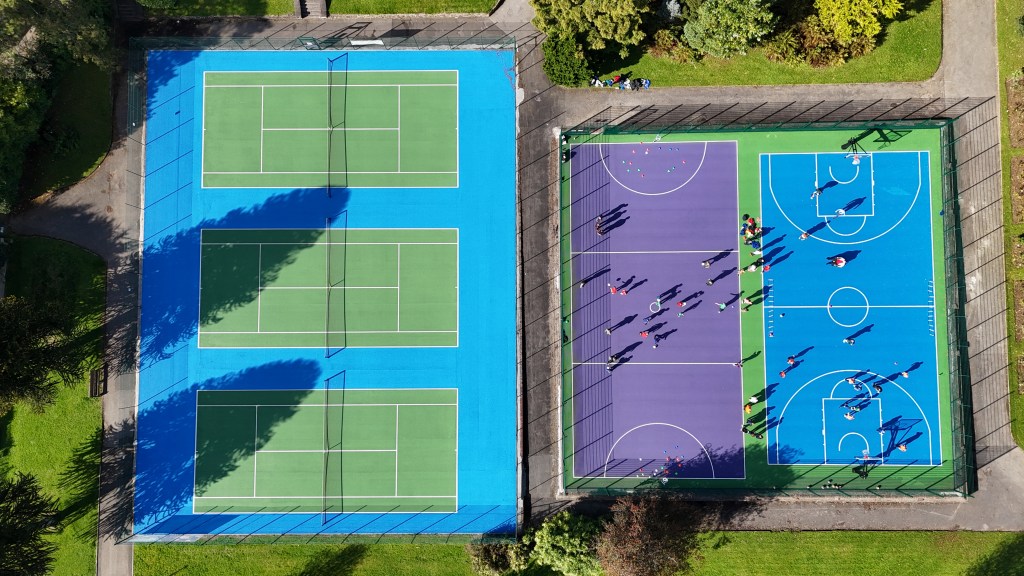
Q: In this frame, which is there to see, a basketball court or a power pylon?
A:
basketball court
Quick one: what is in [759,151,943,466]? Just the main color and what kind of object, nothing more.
blue basketball court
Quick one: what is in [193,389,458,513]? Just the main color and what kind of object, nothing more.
green tennis court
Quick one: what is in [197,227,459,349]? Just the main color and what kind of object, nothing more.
green tennis court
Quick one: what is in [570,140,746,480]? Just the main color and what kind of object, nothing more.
purple sports court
